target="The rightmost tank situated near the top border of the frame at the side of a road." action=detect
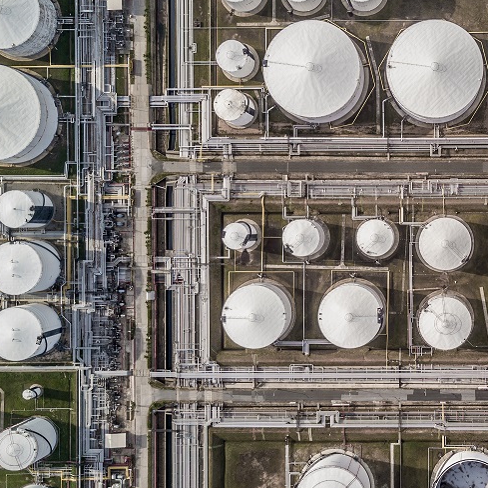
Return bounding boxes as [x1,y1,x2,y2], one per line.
[379,20,488,136]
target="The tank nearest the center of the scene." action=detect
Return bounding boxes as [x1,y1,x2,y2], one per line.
[217,227,262,263]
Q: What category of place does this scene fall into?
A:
industrial area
